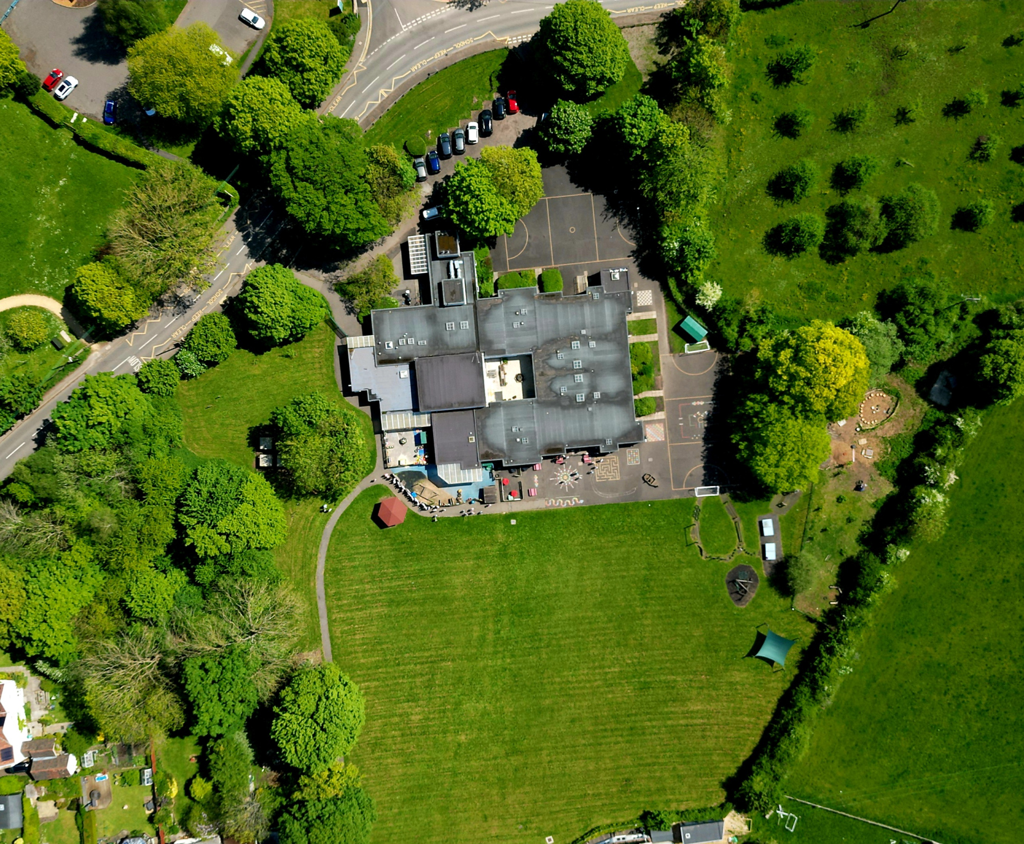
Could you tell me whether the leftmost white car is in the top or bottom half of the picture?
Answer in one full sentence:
The leftmost white car is in the top half of the image.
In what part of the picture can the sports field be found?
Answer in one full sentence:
Look in the bottom portion of the view to spot the sports field.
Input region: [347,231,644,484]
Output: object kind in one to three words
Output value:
building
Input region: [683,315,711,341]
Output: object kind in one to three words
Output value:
shed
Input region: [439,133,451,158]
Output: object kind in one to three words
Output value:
vehicle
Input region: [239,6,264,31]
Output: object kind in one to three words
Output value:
car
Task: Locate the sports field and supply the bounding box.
[271,479,820,844]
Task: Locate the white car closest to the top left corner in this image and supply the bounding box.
[54,75,78,100]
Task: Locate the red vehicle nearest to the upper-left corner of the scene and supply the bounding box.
[43,69,64,91]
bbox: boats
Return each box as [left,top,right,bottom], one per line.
[643,473,659,487]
